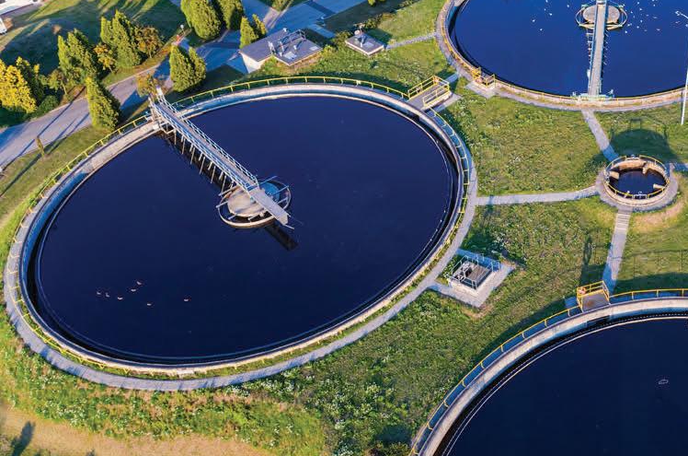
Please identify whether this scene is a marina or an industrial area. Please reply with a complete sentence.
It's an industrial area.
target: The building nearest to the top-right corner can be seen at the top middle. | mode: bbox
[346,26,384,61]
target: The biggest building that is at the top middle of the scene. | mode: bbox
[238,24,322,80]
